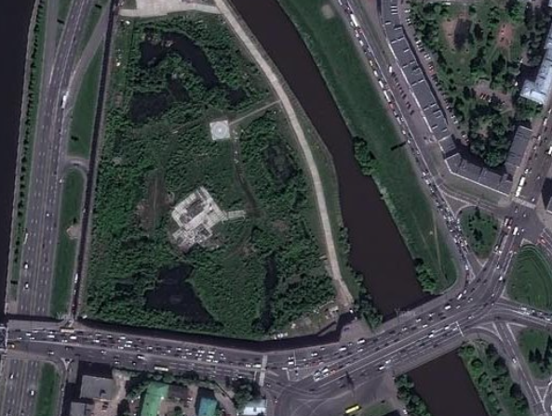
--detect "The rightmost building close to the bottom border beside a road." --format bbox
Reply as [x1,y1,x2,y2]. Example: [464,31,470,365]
[243,400,266,416]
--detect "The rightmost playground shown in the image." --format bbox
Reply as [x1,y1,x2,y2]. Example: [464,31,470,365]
[496,20,515,48]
